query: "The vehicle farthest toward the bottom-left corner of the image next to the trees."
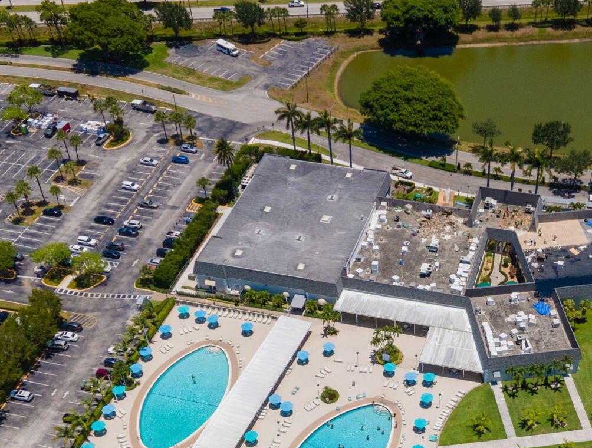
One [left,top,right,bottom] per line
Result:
[8,389,35,404]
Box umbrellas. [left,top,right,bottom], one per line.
[269,396,282,410]
[177,307,189,319]
[322,344,335,357]
[281,402,294,416]
[193,311,206,324]
[420,395,433,408]
[403,374,417,386]
[383,364,396,377]
[206,317,219,329]
[296,351,310,364]
[101,407,116,420]
[413,420,427,434]
[422,374,435,388]
[241,324,254,337]
[243,433,257,447]
[112,387,125,401]
[130,365,143,380]
[91,423,106,437]
[159,327,172,340]
[138,349,151,362]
